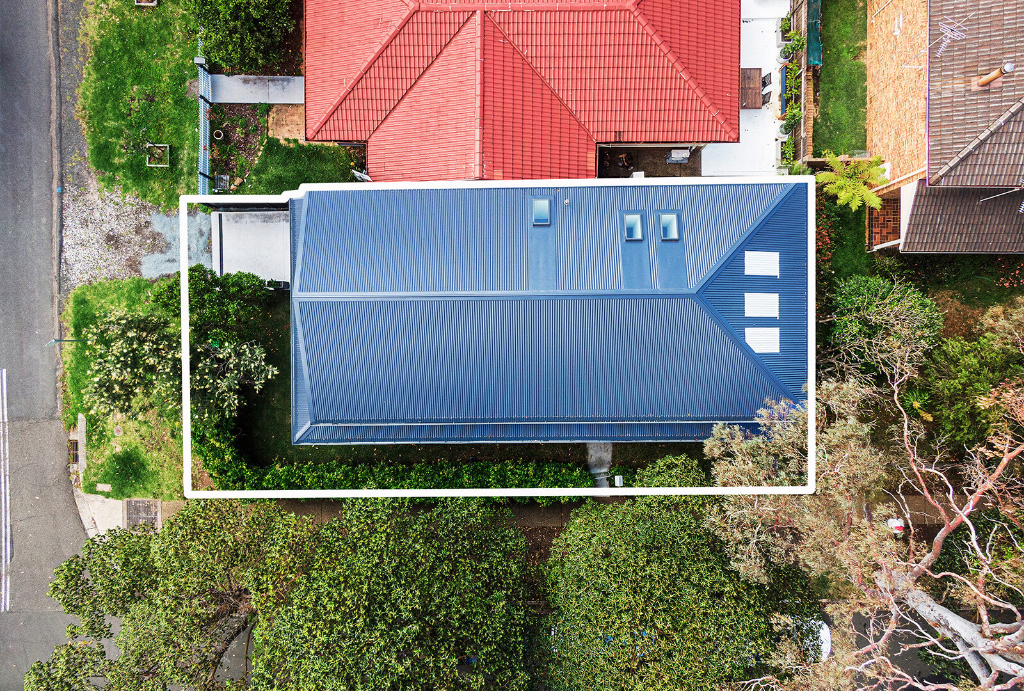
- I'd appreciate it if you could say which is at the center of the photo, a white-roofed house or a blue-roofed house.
blue-roofed house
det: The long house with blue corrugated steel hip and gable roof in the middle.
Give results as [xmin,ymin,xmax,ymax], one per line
[288,184,812,446]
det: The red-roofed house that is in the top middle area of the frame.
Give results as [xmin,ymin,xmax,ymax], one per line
[301,0,744,188]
